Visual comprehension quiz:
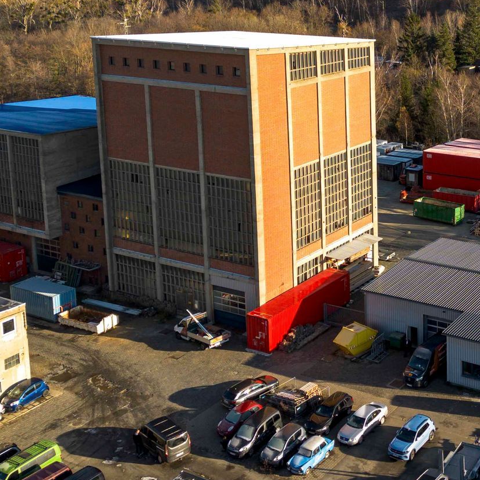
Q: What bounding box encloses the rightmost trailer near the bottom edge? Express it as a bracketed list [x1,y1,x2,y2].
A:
[442,439,480,480]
